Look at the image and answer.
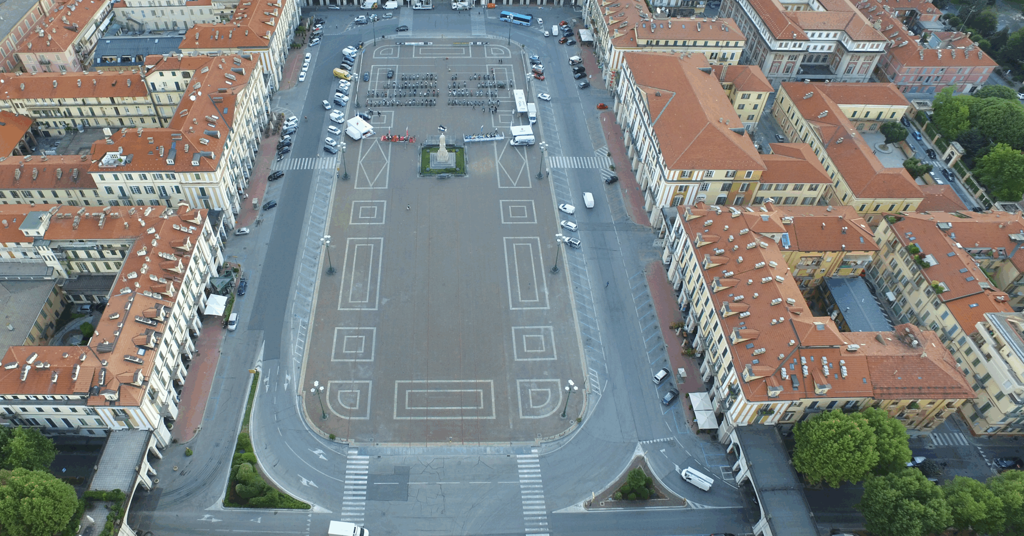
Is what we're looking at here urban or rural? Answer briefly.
urban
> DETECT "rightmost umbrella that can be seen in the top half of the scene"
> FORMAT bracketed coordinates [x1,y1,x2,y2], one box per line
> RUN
[579,30,593,44]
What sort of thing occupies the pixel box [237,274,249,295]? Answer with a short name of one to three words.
vehicle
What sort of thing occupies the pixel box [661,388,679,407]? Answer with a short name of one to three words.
car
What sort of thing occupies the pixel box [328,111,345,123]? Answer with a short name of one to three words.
vehicle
